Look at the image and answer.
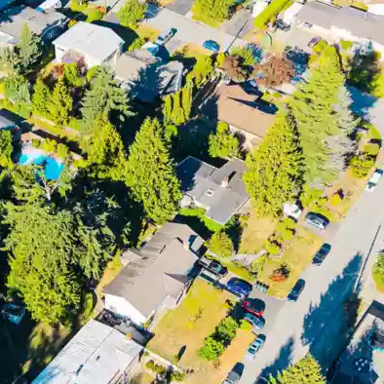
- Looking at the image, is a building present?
Yes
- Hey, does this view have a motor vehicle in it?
Yes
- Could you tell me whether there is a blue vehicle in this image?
Yes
